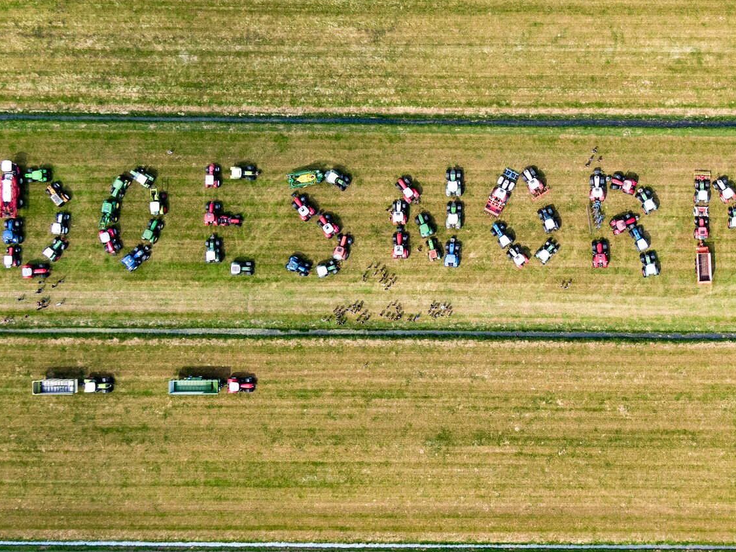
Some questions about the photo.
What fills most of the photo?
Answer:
grass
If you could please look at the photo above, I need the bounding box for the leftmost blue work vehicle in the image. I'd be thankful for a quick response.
[2,218,24,244]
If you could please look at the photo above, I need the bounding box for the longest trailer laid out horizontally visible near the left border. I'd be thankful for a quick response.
[32,377,84,396]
